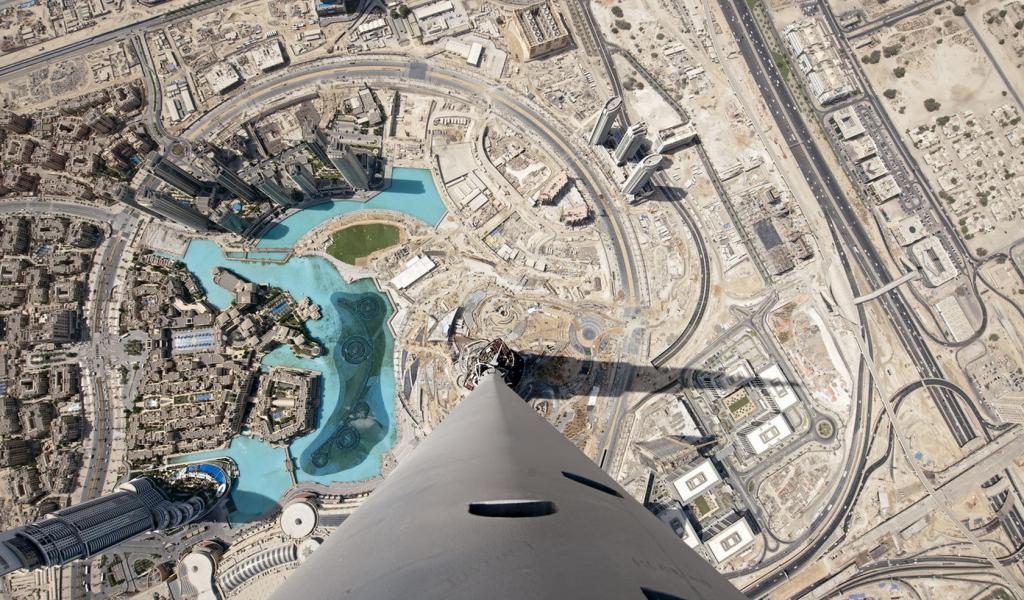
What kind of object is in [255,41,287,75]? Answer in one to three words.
building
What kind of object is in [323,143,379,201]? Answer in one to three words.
building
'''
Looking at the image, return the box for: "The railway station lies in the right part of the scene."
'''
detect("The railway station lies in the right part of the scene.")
[821,263,852,303]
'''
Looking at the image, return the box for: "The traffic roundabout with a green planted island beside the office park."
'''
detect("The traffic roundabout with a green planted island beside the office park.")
[811,414,839,444]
